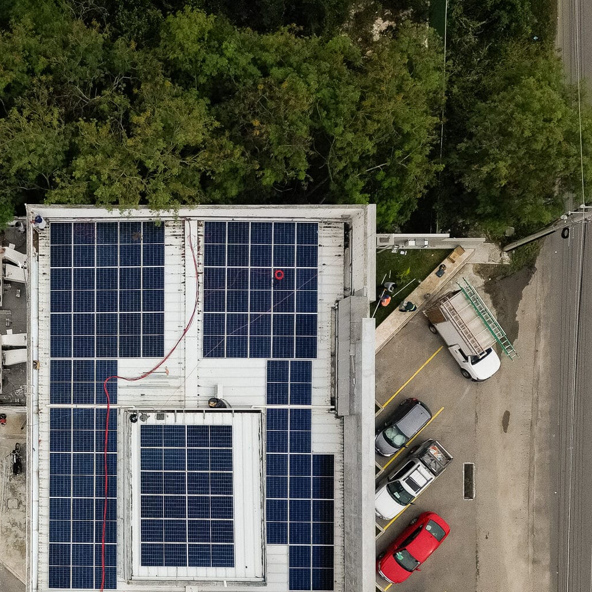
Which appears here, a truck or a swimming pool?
truck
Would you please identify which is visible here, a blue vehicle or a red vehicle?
red vehicle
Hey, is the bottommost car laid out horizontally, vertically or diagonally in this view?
diagonally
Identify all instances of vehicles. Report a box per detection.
[375,396,434,461]
[375,438,460,518]
[380,512,448,583]
[6,442,22,475]
[427,291,498,376]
